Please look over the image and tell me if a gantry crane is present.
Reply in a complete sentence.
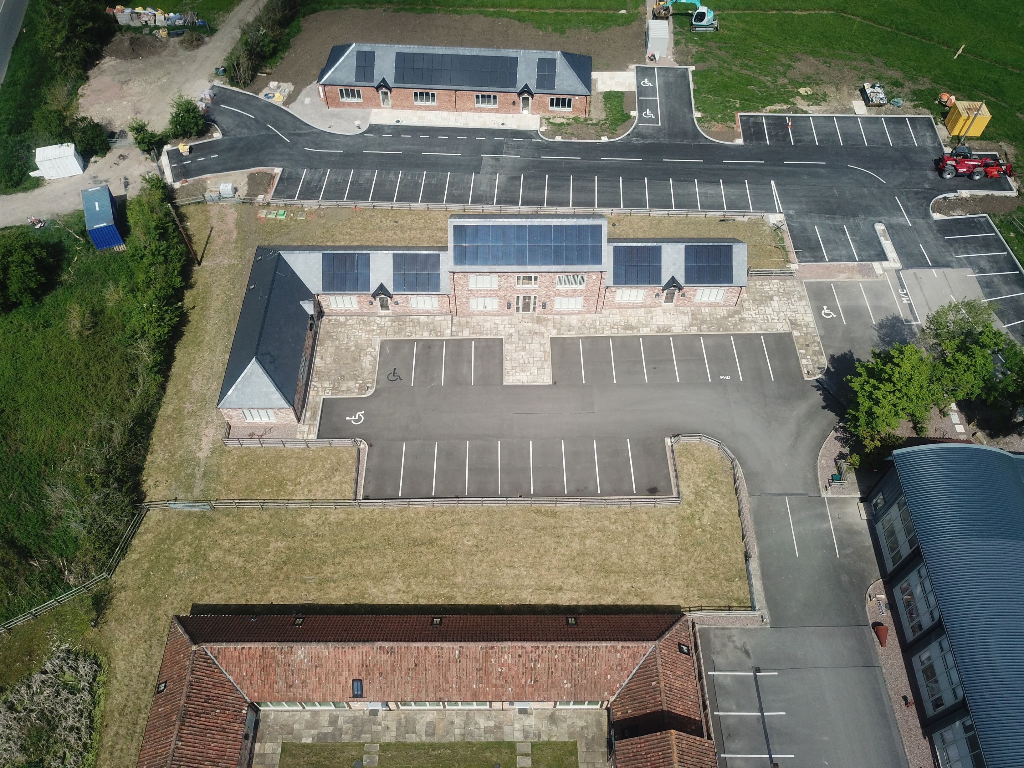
No, there isn't any gantry crane down there.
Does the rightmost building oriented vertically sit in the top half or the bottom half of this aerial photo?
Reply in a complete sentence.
You can find the rightmost building oriented vertically in the bottom half.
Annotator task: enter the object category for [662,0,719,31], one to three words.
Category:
work vehicle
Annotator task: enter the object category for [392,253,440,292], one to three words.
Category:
solar array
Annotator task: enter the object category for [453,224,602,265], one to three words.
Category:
solar array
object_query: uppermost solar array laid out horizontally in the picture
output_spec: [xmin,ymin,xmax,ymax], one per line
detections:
[394,52,518,87]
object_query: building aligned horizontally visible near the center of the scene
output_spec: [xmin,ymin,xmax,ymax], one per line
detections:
[216,213,746,423]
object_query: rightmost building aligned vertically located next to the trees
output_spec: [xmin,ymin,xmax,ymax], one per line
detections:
[875,443,1024,768]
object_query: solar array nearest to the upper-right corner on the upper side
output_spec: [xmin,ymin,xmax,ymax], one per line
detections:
[685,245,733,283]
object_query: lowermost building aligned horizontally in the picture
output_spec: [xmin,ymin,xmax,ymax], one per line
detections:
[133,613,719,768]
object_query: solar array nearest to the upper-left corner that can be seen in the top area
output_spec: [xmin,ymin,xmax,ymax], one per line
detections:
[354,50,375,82]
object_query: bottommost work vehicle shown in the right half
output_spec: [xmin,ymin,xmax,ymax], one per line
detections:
[937,146,1008,179]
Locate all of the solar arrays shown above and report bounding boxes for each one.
[614,245,662,284]
[685,245,733,283]
[394,52,518,87]
[536,56,556,88]
[392,253,440,292]
[354,50,375,82]
[321,253,370,292]
[453,224,602,265]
